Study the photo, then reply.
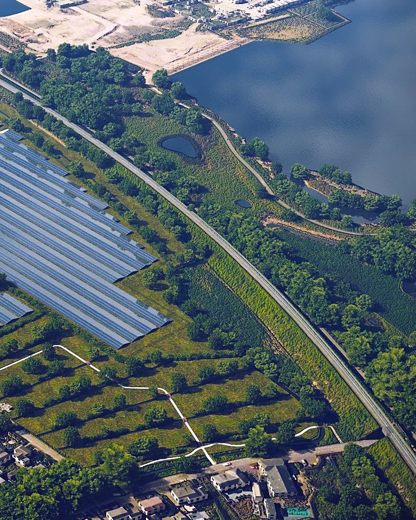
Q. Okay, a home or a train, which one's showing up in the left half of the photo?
home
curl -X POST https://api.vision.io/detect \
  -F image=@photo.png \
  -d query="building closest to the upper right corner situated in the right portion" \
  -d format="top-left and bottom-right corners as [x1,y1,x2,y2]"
[256,0,317,15]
